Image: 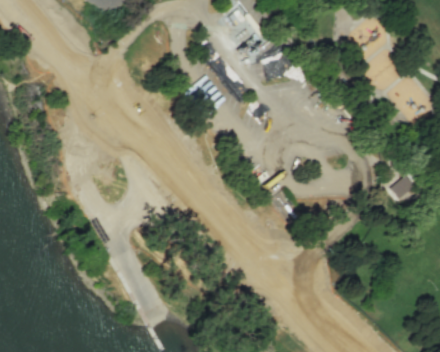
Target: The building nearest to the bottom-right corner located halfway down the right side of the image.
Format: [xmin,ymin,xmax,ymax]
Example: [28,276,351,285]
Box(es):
[388,172,415,202]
